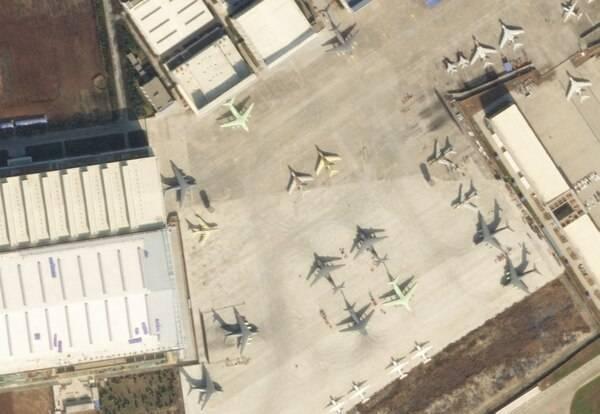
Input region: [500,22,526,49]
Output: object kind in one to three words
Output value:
airplane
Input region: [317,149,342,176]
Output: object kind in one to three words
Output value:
airplane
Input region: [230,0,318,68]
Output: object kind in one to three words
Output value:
hangar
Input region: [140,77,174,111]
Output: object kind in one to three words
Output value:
building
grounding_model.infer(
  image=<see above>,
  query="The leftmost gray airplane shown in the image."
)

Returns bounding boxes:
[161,166,196,206]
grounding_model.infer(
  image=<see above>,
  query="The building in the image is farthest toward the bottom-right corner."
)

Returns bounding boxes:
[564,214,600,285]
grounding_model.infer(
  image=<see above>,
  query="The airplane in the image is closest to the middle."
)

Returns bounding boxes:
[288,168,315,196]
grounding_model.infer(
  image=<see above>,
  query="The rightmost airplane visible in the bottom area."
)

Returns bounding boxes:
[501,255,536,292]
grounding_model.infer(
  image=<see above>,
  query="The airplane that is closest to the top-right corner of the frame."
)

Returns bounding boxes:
[563,2,580,23]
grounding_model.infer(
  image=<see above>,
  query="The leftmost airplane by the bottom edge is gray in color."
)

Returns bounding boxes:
[188,369,223,410]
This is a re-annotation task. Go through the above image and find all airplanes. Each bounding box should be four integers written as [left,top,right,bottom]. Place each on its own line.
[460,56,470,70]
[188,369,223,410]
[161,166,196,206]
[325,25,360,58]
[383,278,418,310]
[310,258,345,292]
[223,314,260,354]
[192,217,221,245]
[353,231,388,264]
[563,2,580,23]
[339,304,375,338]
[349,385,369,402]
[451,183,480,210]
[317,149,342,176]
[411,344,432,361]
[389,362,409,378]
[327,399,347,414]
[475,217,510,253]
[471,39,498,67]
[567,74,592,101]
[427,139,455,166]
[500,22,526,49]
[220,99,255,132]
[288,168,315,196]
[501,255,536,292]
